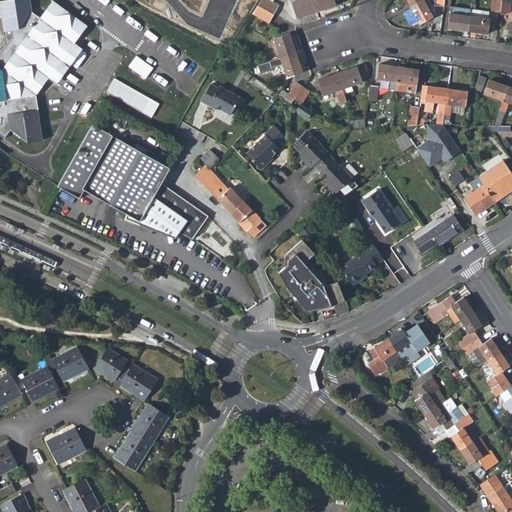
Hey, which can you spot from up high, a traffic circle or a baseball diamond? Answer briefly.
traffic circle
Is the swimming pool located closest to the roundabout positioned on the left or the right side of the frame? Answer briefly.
right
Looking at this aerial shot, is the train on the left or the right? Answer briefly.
left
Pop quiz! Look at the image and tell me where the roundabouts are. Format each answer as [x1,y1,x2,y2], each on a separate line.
[242,350,296,404]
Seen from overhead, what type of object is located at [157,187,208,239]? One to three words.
building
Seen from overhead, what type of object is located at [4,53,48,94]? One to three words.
shed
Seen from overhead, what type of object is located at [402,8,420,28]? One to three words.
swimming pool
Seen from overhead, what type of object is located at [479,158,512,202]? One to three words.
house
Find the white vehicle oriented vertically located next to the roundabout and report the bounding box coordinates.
[309,348,325,392]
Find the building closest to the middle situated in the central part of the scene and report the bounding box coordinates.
[240,212,266,238]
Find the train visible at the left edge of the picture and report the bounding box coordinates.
[0,236,58,267]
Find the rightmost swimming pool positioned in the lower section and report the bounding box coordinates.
[412,352,438,378]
